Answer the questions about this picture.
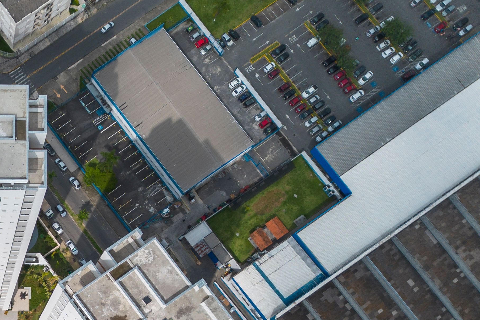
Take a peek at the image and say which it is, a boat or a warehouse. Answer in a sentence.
The image shows a warehouse.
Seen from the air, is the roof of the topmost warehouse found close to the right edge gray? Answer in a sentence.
Yes, the roof of the topmost warehouse found close to the right edge is indeed gray.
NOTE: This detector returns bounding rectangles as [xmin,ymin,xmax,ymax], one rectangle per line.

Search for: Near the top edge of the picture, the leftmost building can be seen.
[0,0,81,50]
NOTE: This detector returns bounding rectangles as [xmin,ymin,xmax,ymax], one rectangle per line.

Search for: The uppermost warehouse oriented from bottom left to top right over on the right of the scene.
[314,33,480,179]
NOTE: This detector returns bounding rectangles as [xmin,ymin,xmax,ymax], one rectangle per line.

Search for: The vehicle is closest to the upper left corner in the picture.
[100,22,114,34]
